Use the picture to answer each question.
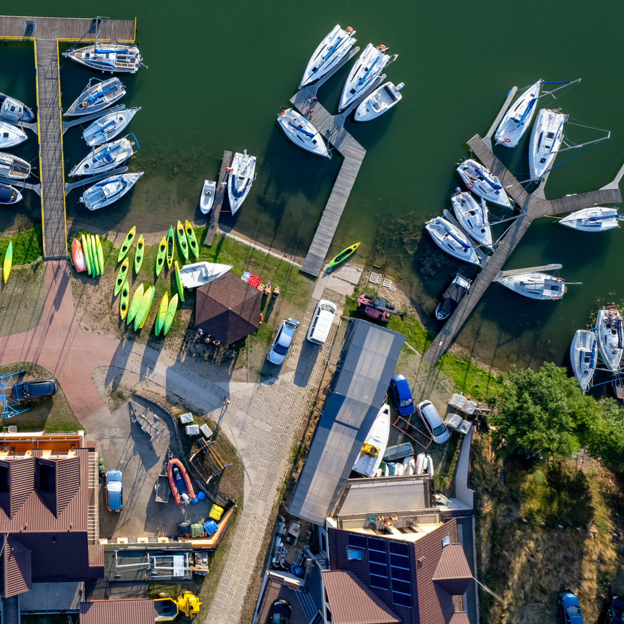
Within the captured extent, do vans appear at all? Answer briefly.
Yes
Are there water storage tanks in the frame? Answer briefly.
No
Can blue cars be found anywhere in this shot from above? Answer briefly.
Yes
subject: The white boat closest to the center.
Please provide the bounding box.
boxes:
[180,261,234,286]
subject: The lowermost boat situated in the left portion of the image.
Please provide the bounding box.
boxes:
[166,443,197,512]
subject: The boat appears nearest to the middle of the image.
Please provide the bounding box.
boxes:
[331,242,361,263]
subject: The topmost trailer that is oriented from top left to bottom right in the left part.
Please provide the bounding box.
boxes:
[130,400,171,441]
